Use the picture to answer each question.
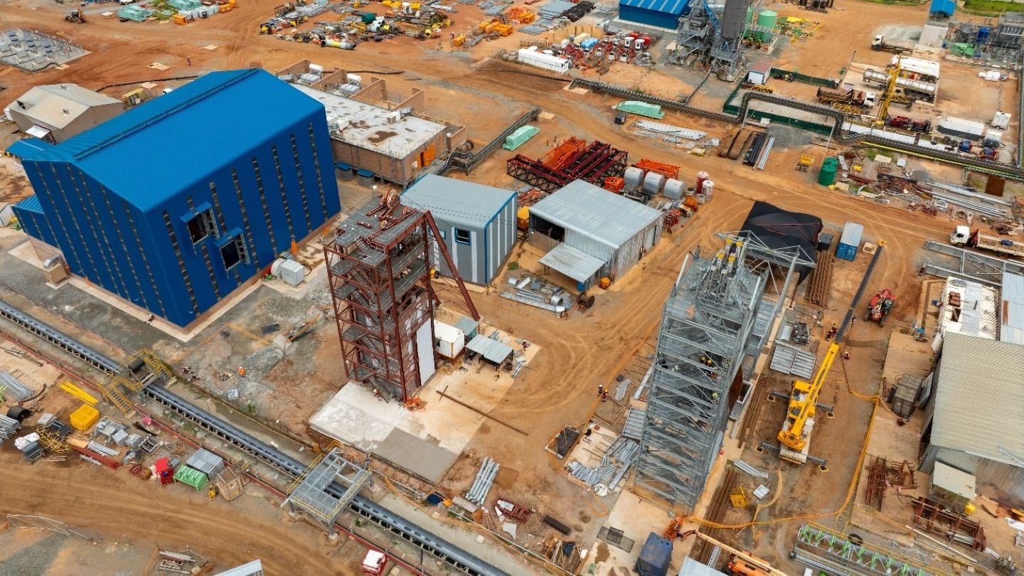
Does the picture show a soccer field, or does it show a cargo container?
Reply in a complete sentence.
The one in the frame is a cargo container.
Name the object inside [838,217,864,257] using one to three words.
shipping container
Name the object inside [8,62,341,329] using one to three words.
building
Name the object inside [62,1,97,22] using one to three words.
work vehicle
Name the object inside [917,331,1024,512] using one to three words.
shed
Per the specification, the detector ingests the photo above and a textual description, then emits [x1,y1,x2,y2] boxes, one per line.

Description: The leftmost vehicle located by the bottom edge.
[353,541,390,576]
